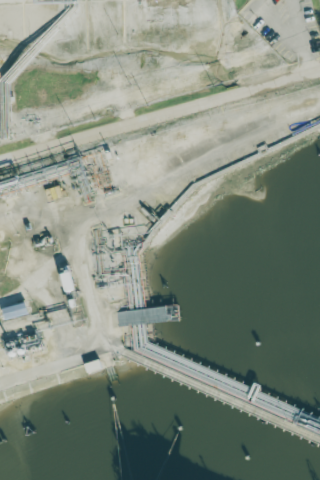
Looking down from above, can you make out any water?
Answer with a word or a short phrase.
Yes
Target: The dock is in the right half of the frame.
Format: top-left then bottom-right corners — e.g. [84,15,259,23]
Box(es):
[108,341,320,442]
